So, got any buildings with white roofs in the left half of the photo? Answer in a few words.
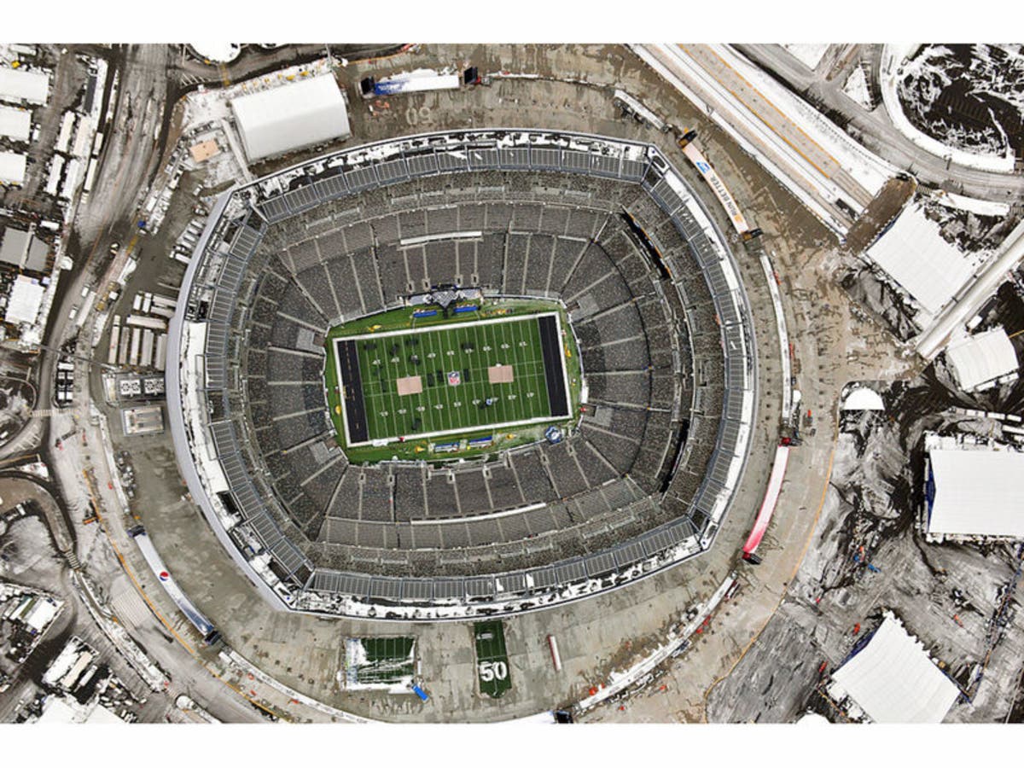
Yes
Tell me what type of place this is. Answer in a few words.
sports ground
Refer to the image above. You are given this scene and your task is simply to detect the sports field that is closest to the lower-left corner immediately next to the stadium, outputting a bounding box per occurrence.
[345,638,421,693]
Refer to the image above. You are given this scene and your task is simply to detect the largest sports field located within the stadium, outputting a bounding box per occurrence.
[324,291,583,465]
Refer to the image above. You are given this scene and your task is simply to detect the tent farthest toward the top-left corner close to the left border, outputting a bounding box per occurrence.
[0,69,49,104]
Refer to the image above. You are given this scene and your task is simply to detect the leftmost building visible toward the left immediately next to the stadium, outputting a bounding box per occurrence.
[121,407,163,436]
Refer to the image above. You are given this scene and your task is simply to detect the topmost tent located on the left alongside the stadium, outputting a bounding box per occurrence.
[232,72,351,160]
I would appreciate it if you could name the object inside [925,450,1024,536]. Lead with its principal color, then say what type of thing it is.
white tent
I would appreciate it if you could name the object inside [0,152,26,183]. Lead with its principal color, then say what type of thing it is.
white tent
